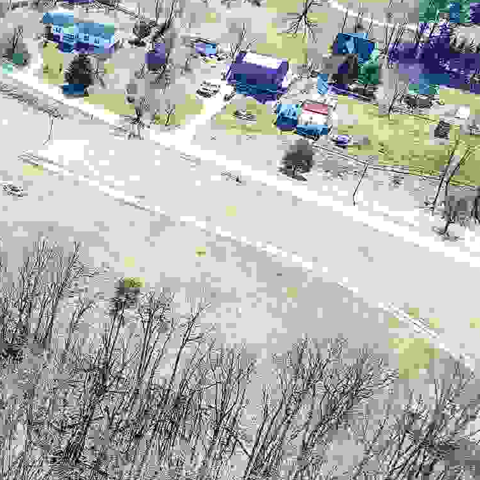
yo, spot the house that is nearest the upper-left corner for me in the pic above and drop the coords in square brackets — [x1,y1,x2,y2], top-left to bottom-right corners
[51,8,125,56]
